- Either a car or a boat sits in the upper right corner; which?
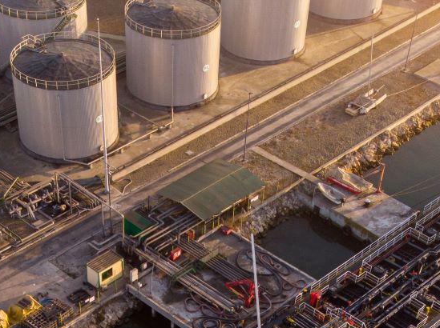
boat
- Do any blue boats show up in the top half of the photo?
No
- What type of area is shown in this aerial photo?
industrial area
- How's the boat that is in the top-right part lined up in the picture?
at an angle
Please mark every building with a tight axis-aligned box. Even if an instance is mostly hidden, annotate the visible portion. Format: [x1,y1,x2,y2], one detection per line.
[86,250,124,288]
[157,159,265,238]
